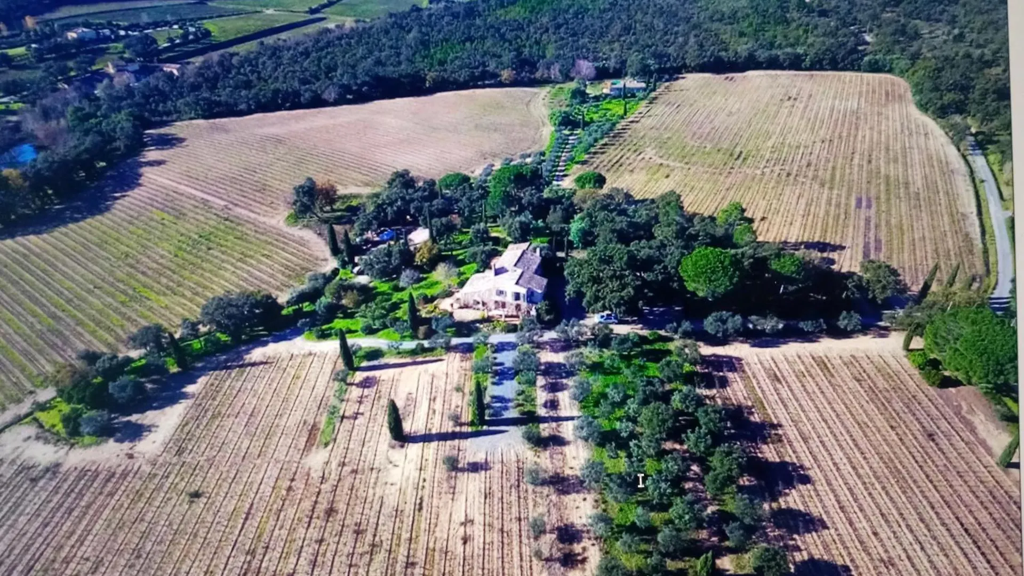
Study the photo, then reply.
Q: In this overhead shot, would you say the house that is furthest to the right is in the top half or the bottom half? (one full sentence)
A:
It is in the top half that the house that is furthest to the right appears.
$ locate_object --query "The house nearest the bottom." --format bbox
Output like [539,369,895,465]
[458,245,551,313]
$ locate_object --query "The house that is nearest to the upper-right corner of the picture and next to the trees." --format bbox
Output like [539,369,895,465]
[596,75,648,98]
